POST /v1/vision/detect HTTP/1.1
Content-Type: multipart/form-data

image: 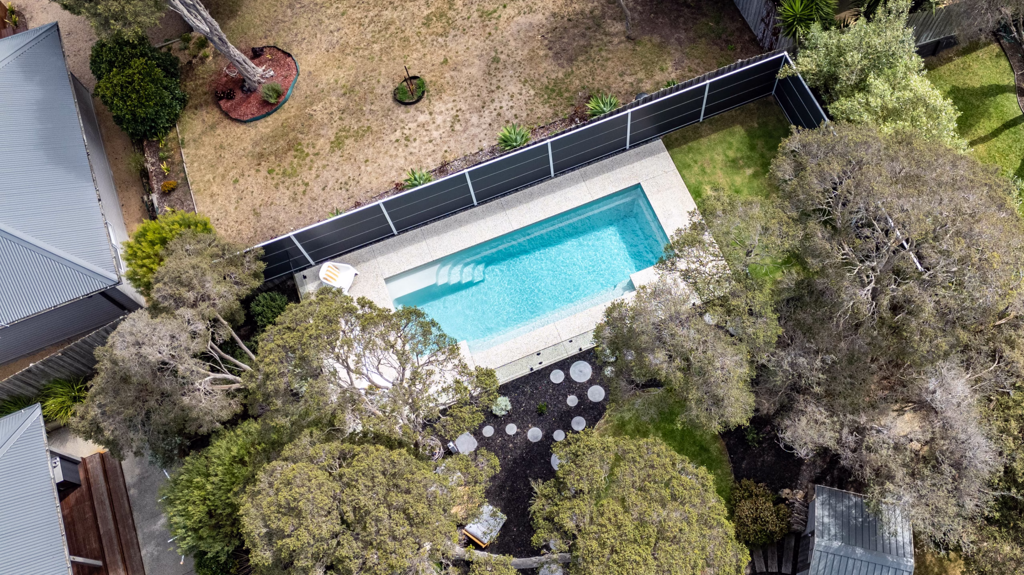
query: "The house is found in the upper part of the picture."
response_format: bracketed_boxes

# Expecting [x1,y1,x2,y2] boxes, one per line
[0,15,147,362]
